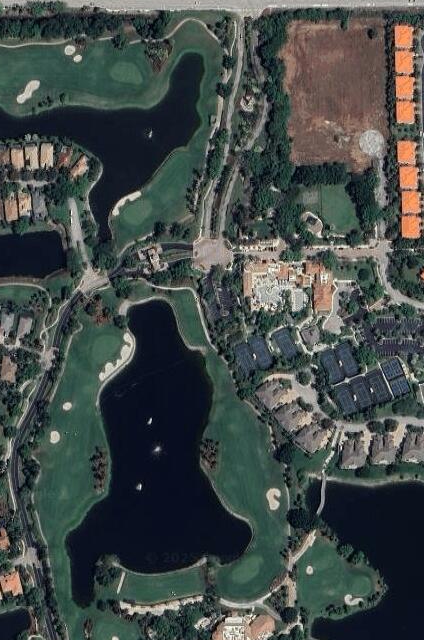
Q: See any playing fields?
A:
Yes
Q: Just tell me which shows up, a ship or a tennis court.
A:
tennis court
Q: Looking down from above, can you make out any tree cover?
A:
Yes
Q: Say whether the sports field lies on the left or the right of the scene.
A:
right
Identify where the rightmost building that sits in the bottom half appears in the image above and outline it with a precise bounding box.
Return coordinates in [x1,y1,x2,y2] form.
[404,432,424,459]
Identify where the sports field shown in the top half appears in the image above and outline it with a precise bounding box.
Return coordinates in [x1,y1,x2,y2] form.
[297,181,357,235]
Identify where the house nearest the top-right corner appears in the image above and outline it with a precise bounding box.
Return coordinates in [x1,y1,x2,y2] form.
[397,24,414,47]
